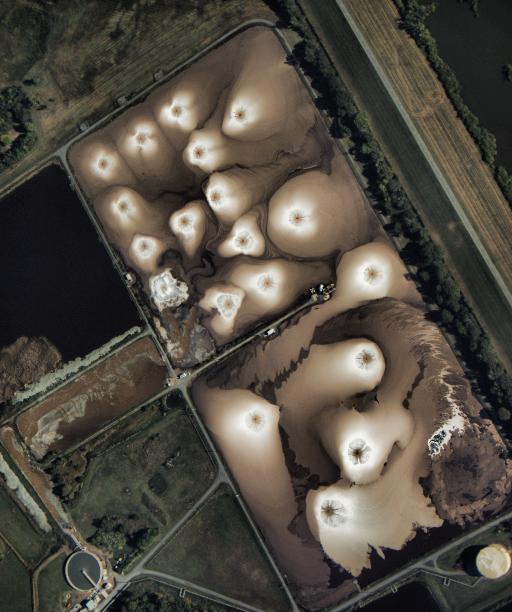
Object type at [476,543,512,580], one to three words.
storage tank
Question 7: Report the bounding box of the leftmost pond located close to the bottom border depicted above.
[354,580,440,612]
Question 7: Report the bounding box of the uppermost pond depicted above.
[0,163,144,405]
